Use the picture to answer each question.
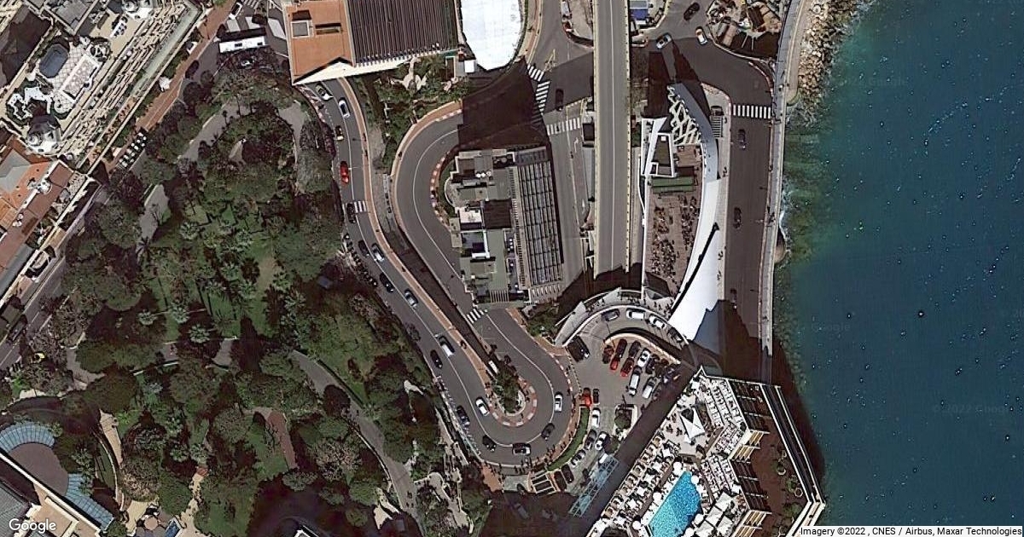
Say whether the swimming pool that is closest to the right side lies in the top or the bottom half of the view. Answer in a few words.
bottom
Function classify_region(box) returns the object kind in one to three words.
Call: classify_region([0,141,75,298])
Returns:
building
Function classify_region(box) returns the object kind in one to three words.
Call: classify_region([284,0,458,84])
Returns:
building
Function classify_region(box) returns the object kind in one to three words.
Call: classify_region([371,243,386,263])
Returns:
car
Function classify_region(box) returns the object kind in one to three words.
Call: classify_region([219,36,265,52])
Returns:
vehicle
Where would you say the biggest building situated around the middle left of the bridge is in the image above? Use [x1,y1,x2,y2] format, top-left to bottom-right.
[444,145,567,307]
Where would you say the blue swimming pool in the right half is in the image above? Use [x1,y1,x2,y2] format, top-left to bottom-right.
[645,470,701,537]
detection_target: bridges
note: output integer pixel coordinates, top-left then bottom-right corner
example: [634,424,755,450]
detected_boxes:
[593,0,631,293]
